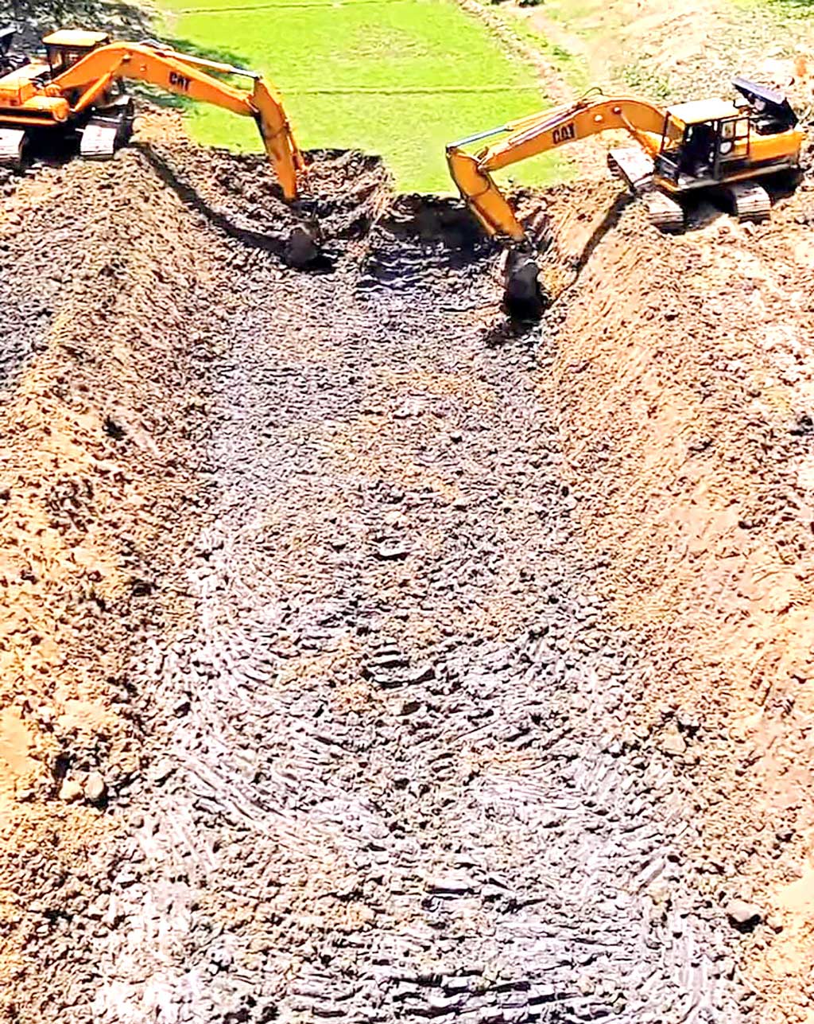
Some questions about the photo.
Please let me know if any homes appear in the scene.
No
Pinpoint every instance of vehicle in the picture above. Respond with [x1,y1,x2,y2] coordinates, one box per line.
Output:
[0,19,325,260]
[443,73,801,316]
